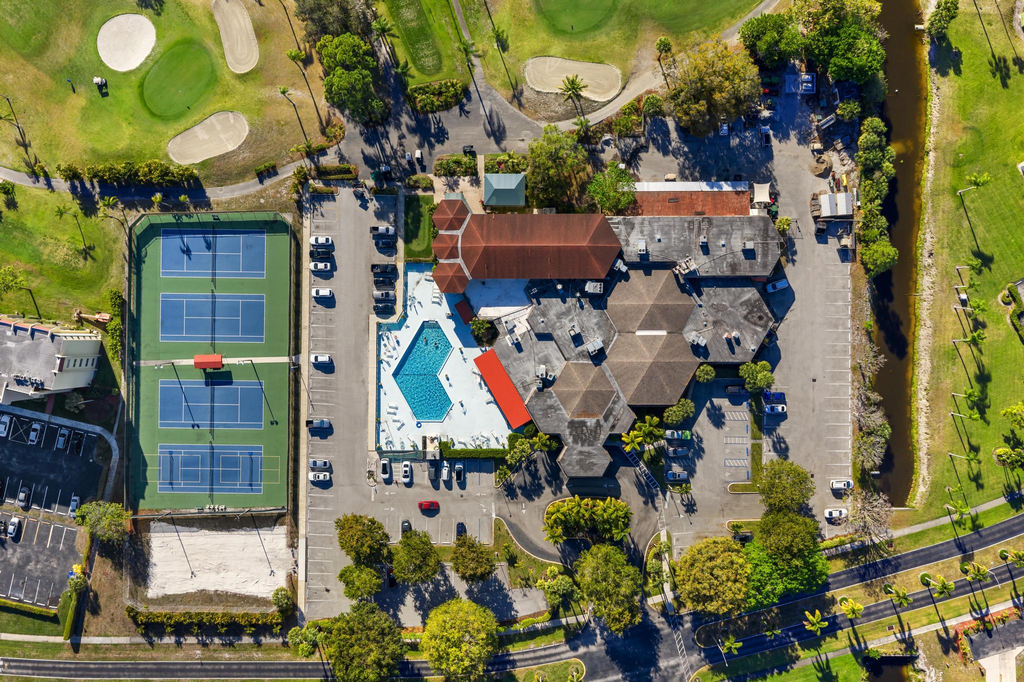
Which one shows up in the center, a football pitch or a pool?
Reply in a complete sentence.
Visible in the center is a pool.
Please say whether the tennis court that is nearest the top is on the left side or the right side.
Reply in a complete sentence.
It is on the left.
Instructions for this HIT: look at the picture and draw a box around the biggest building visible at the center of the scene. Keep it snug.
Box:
[432,193,783,477]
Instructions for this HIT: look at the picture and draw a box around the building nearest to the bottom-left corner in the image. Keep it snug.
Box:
[0,316,105,403]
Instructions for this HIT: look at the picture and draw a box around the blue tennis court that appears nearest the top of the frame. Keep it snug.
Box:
[160,224,266,282]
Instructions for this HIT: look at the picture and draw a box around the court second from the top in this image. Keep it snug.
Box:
[160,289,265,346]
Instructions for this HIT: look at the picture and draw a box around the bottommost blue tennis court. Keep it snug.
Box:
[140,441,281,498]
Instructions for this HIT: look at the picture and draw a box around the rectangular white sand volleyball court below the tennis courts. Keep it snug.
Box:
[147,521,288,600]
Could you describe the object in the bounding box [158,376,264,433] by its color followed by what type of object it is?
blue tennis court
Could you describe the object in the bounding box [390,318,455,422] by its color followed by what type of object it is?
blue swimming pool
